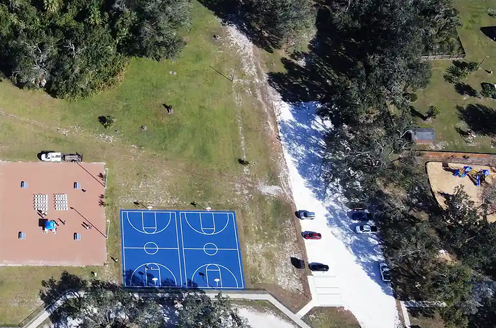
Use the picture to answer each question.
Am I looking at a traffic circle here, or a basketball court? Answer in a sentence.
The image shows a basketball court.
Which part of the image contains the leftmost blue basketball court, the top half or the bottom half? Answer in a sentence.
Seen from above, the leftmost blue basketball court lies in the bottom half of the view.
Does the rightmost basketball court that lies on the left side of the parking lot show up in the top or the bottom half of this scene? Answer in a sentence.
Seen from above, the rightmost basketball court that lies on the left side of the parking lot lies in the bottom half of the view.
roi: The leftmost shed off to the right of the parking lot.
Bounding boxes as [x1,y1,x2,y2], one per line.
[411,127,438,144]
